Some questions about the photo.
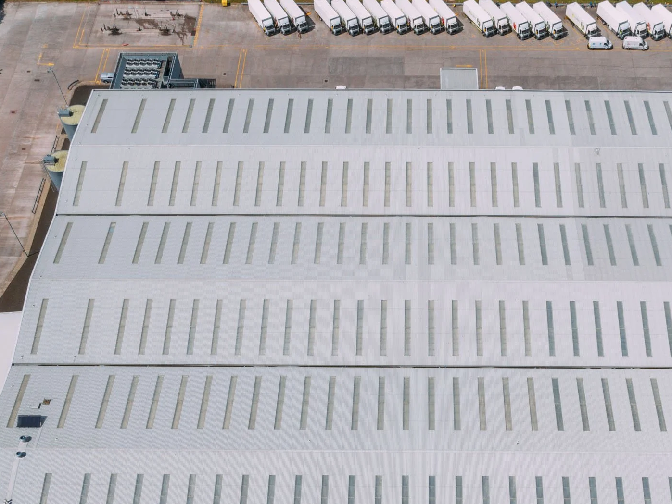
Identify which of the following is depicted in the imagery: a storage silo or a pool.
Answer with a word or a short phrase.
storage silo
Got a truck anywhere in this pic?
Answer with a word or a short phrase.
Yes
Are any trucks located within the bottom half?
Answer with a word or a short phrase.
No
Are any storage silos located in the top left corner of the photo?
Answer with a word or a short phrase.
Yes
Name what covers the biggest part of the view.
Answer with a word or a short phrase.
buildings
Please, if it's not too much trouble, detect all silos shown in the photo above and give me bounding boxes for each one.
[58,106,85,143]
[42,152,68,194]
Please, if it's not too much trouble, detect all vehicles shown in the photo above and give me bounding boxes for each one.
[264,0,293,35]
[587,35,612,49]
[651,2,672,42]
[493,81,505,90]
[463,0,496,38]
[396,0,426,35]
[633,1,667,41]
[564,0,599,40]
[500,0,532,41]
[347,0,377,35]
[429,0,461,35]
[616,0,650,38]
[248,0,277,36]
[623,36,647,51]
[478,0,511,35]
[363,0,394,34]
[594,0,630,40]
[412,0,443,34]
[381,0,411,36]
[281,0,310,34]
[336,81,347,89]
[532,0,565,40]
[314,0,344,36]
[331,0,362,36]
[99,70,115,82]
[516,0,549,40]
